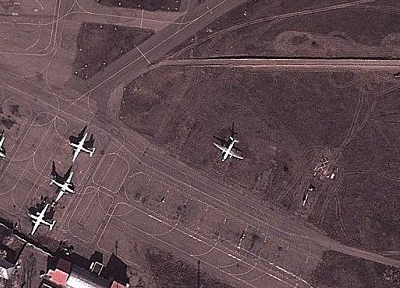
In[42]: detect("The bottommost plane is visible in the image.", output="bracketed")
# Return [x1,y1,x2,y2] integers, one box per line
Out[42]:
[29,204,56,235]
